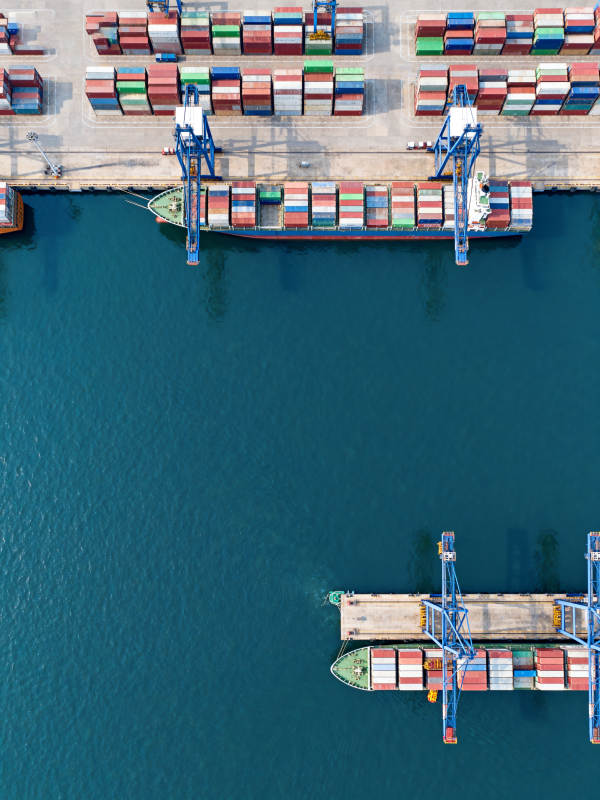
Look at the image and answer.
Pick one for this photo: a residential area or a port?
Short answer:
port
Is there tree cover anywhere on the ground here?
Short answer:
No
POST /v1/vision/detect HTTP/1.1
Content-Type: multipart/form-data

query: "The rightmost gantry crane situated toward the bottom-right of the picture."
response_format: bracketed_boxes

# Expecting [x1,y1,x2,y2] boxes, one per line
[548,530,600,746]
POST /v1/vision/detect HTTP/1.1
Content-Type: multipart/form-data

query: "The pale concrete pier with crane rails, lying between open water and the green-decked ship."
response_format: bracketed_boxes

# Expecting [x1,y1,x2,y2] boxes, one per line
[341,591,598,641]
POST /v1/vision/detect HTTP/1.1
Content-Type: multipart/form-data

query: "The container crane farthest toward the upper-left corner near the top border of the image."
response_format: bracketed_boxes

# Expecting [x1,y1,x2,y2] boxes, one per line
[147,0,191,23]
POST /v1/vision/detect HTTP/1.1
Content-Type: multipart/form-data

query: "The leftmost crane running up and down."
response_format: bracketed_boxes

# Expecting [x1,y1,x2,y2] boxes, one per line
[173,82,220,267]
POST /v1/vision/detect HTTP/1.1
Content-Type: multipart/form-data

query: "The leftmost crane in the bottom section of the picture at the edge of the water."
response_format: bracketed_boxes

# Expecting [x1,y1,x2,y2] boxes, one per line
[416,530,476,746]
